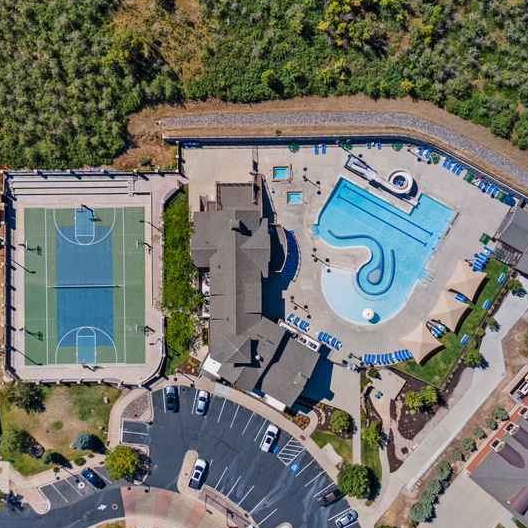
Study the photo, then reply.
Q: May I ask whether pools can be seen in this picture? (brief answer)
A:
Yes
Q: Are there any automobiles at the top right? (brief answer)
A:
No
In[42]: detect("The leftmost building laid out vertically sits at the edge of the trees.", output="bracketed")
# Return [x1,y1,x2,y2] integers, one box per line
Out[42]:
[191,173,286,390]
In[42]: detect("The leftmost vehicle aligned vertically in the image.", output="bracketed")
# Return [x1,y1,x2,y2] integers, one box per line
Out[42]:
[165,385,177,412]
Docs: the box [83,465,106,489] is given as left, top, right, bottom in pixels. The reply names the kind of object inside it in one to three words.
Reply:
car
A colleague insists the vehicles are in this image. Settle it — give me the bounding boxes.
[260,422,278,453]
[196,389,209,416]
[333,509,359,527]
[188,457,208,491]
[313,486,344,510]
[83,465,106,489]
[165,385,177,412]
